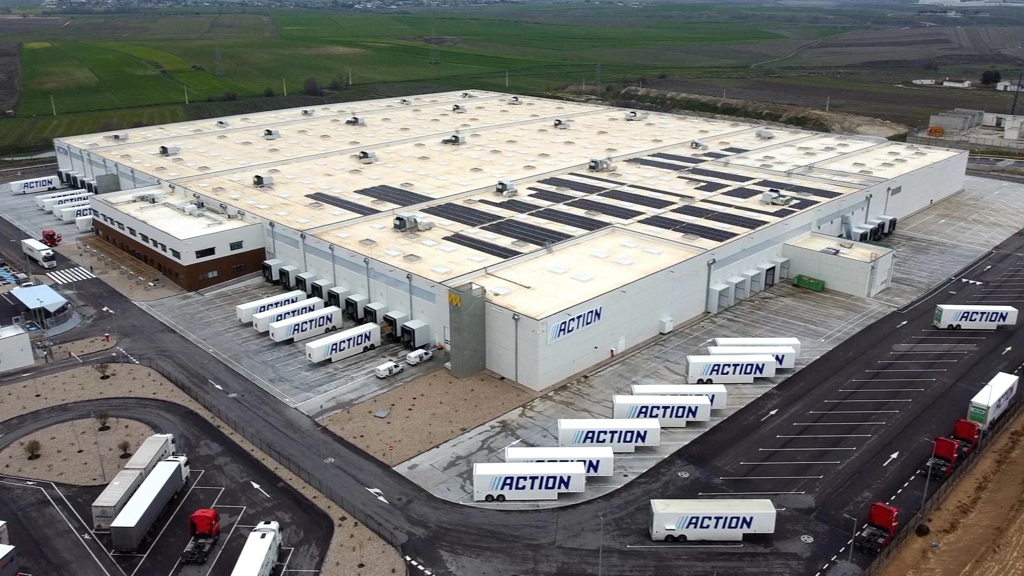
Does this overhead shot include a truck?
Yes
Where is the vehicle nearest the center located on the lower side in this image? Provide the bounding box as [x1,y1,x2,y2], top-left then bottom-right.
[408,346,437,364]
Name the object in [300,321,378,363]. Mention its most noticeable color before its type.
white trailer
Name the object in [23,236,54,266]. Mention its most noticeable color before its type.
white truck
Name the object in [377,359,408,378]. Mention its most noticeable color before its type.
white vehicle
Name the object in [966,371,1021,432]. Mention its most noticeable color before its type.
white trailer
